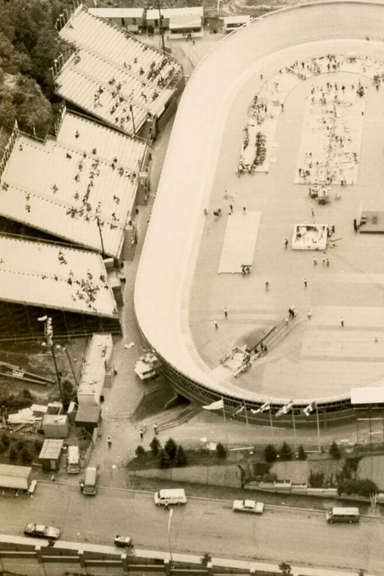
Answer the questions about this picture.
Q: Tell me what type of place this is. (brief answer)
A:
sports ground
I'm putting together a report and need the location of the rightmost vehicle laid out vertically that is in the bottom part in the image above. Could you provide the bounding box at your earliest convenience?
[80,457,97,493]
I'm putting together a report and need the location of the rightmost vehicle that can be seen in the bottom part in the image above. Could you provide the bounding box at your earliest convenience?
[327,509,360,527]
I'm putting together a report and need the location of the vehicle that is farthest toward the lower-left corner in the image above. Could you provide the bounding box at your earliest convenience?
[22,525,62,542]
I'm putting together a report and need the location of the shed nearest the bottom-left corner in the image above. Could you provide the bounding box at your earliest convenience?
[39,439,63,471]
